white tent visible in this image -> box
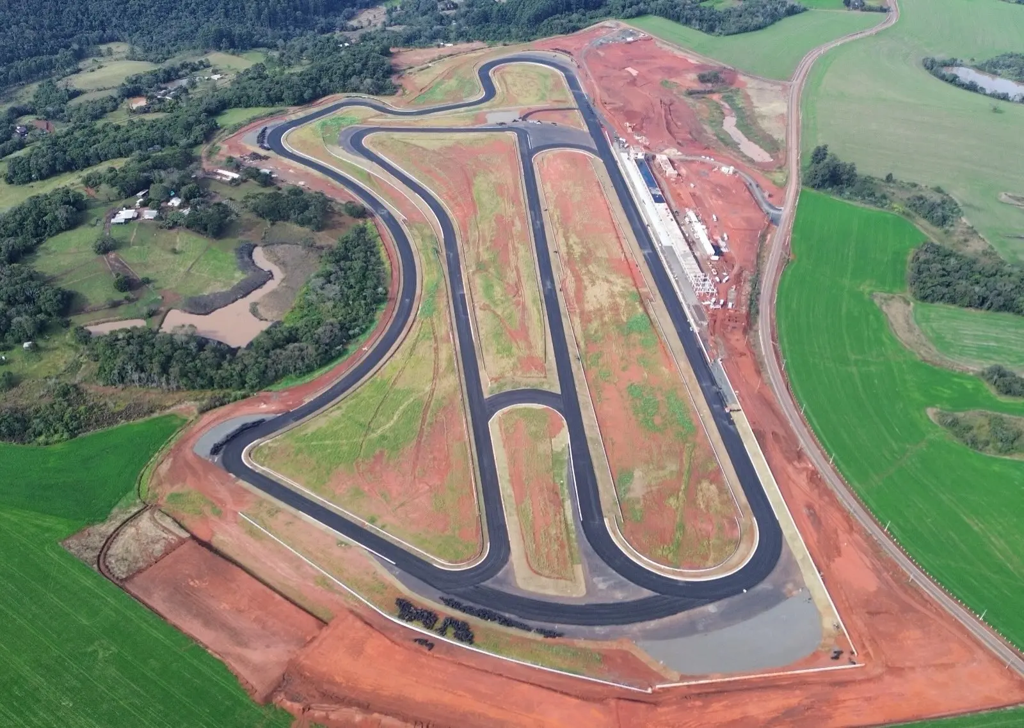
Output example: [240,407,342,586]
[687,210,715,258]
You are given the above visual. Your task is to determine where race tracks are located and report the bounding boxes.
[224,57,781,598]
